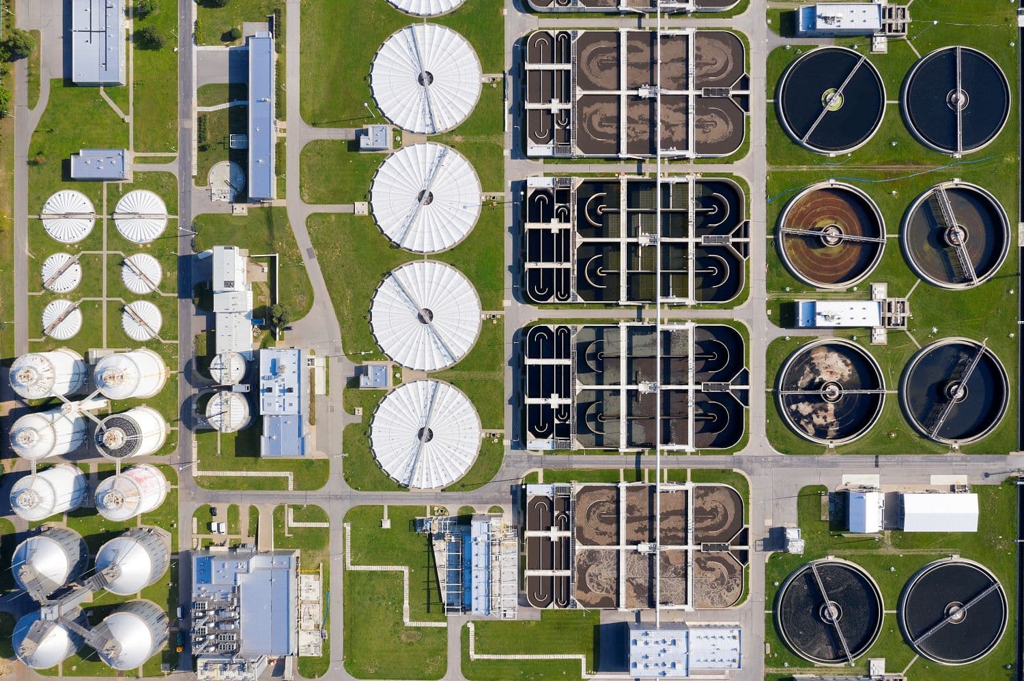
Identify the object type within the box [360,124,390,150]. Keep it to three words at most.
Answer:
shed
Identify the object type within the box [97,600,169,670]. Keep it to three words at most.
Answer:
silo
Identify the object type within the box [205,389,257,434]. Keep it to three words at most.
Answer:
storage tank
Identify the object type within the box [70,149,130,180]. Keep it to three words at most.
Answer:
building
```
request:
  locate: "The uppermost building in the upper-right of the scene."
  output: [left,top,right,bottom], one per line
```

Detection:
[795,2,882,37]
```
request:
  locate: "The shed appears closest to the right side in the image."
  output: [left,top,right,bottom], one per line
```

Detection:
[896,493,980,532]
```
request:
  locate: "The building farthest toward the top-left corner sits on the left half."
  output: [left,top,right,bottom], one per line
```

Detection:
[72,0,126,87]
